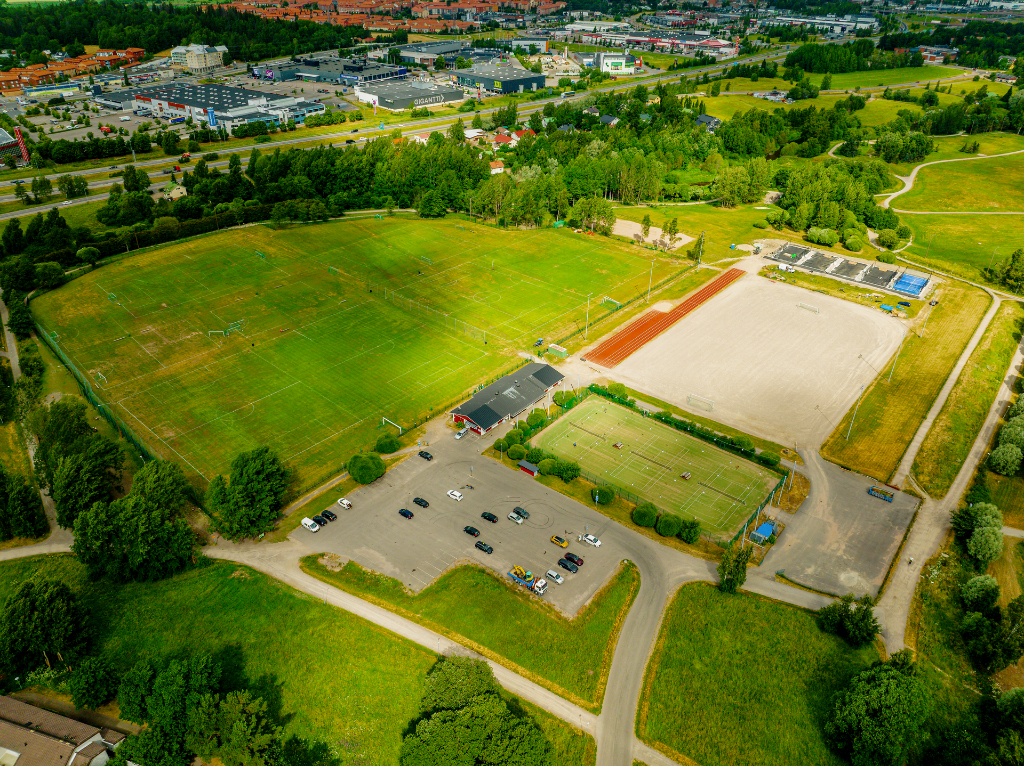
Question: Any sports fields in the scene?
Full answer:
Yes, looking at the shot, I can spot a sports field.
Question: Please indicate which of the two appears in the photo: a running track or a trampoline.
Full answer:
There is a running track in the scene.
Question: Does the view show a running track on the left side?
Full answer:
No, there's no running track to be seen on the left side.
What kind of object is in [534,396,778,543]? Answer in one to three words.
sports court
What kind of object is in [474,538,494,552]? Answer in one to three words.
car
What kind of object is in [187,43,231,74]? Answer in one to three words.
building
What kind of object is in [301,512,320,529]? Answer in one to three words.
vehicle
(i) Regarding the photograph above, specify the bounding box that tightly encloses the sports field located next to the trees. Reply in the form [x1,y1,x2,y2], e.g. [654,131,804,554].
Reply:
[32,214,697,533]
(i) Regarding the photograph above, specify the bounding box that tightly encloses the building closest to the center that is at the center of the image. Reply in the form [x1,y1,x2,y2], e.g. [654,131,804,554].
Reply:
[450,362,565,437]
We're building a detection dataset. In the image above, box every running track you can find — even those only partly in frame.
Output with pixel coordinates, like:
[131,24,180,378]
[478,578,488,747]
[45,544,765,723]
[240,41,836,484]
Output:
[583,268,743,368]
